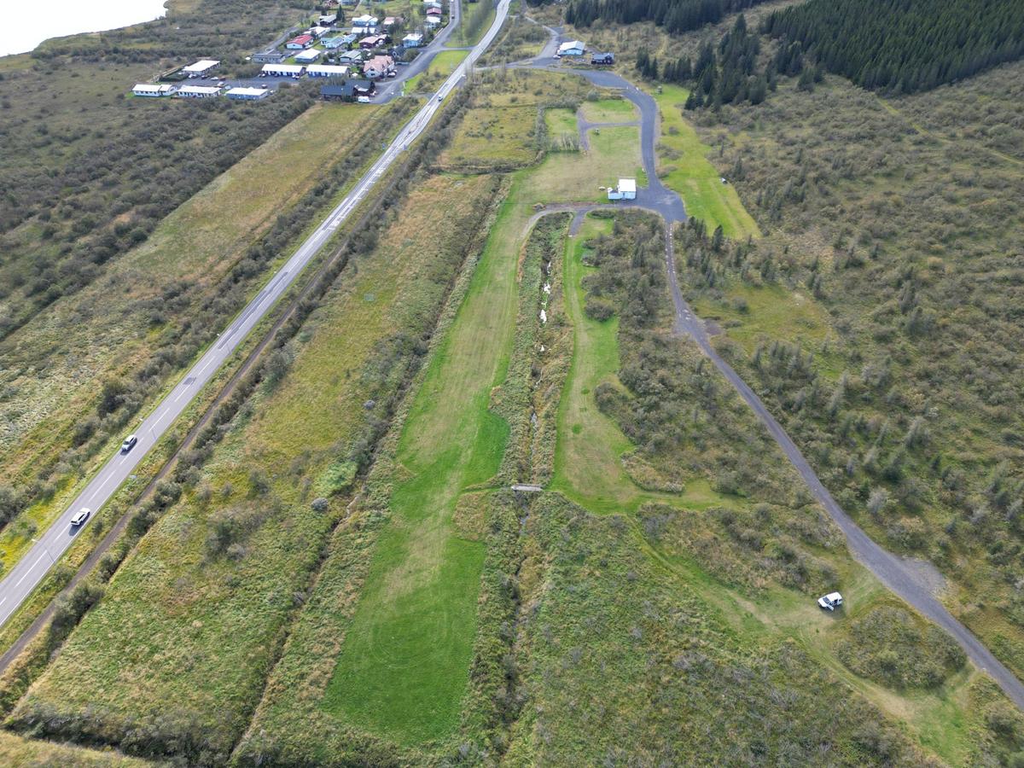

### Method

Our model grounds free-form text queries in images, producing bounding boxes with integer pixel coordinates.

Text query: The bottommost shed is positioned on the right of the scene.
[606,181,637,200]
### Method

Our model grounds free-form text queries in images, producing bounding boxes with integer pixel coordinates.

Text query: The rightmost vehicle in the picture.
[818,591,844,610]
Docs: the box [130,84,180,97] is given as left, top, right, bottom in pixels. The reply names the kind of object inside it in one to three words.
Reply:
house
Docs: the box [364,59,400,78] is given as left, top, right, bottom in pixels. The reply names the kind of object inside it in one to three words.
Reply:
house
